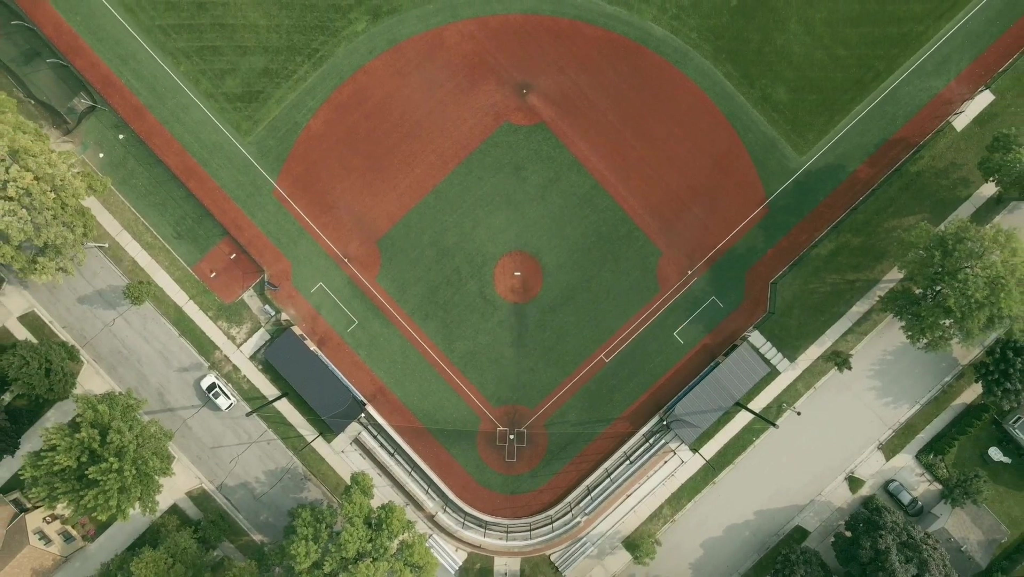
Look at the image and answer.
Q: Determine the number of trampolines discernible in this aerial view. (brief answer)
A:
zero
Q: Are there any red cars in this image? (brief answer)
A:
No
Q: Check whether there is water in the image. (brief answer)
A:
No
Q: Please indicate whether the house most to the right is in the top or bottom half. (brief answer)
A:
bottom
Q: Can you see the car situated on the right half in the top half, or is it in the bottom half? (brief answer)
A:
bottom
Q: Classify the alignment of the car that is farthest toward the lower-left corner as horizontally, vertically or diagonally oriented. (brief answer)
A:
diagonally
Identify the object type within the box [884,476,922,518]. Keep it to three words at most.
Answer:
car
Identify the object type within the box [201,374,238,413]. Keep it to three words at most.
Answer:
car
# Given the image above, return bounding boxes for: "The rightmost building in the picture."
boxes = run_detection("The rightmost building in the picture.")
[995,408,1024,444]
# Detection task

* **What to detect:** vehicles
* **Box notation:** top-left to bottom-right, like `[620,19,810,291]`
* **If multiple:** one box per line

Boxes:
[201,374,238,413]
[884,476,922,518]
